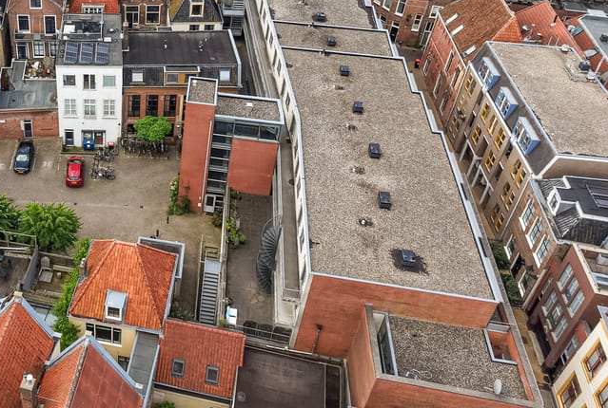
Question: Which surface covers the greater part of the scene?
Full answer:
For the most part, this view shows buildings.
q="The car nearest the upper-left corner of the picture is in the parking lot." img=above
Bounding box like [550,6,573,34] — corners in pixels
[11,140,34,175]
